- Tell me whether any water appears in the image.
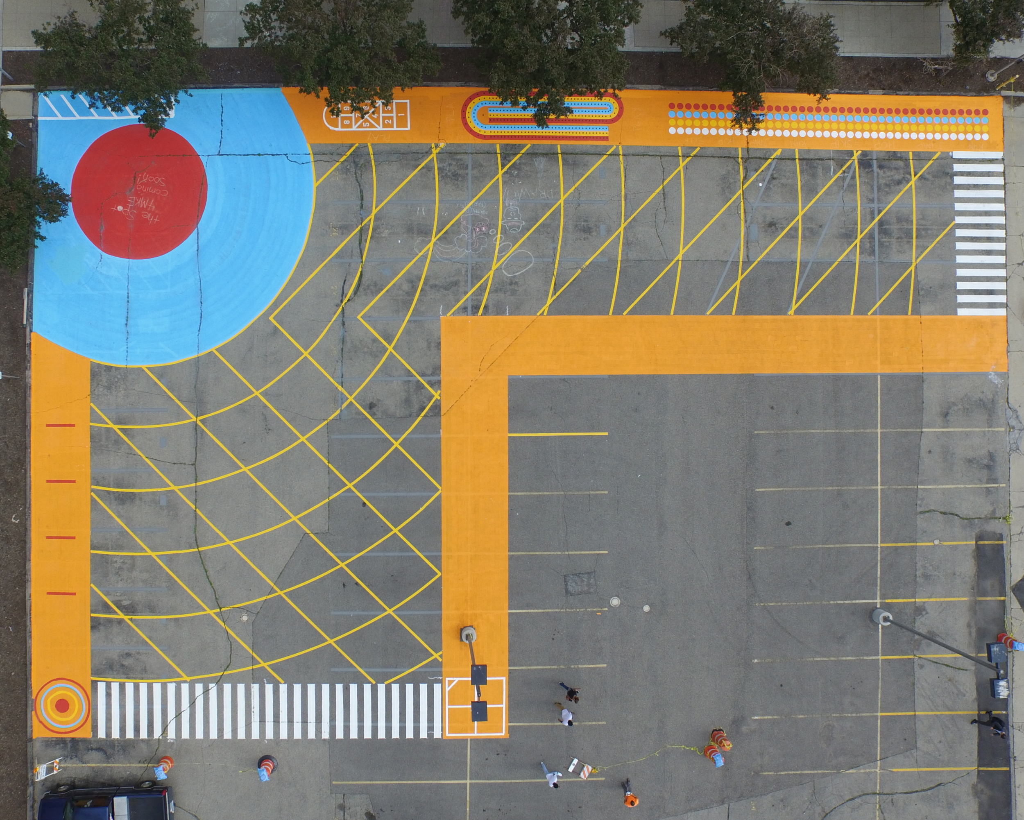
No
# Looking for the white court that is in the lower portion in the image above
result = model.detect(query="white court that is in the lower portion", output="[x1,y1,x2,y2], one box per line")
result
[446,677,506,736]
